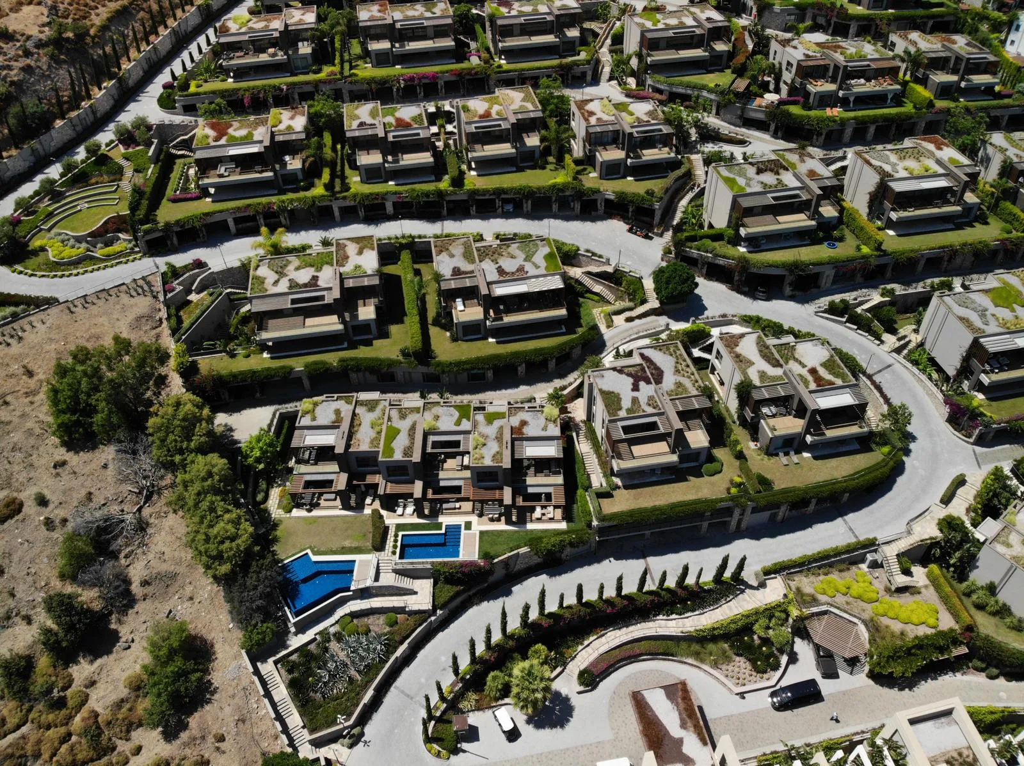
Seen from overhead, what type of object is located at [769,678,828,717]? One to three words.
car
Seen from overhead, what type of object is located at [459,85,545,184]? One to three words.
house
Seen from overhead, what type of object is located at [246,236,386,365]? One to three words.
house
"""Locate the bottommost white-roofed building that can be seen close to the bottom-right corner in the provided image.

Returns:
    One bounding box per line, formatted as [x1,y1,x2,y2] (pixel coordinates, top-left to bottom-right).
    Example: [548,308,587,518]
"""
[870,697,997,766]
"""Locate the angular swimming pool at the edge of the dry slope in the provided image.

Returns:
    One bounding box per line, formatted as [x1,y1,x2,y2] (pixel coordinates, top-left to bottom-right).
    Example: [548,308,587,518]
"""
[281,549,376,627]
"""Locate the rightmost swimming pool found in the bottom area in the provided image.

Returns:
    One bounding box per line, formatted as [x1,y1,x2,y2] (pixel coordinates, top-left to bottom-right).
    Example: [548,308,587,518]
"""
[396,522,479,572]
